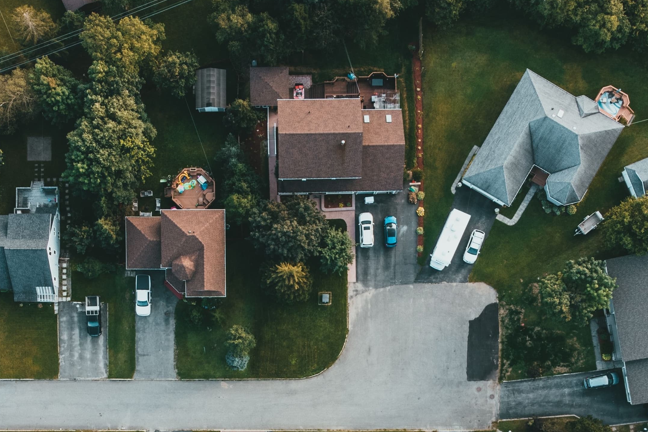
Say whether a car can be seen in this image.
Yes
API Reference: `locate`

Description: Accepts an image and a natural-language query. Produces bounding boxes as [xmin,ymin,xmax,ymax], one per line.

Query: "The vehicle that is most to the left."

[84,293,102,337]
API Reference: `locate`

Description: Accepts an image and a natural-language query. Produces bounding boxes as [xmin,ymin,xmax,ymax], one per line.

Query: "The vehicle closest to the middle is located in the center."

[358,212,375,248]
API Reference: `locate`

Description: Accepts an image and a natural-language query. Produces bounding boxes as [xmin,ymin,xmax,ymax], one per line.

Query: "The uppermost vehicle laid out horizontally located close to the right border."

[582,371,619,388]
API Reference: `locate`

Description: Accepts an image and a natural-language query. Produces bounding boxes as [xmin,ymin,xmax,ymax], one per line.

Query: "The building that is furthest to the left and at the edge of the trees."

[0,213,57,303]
